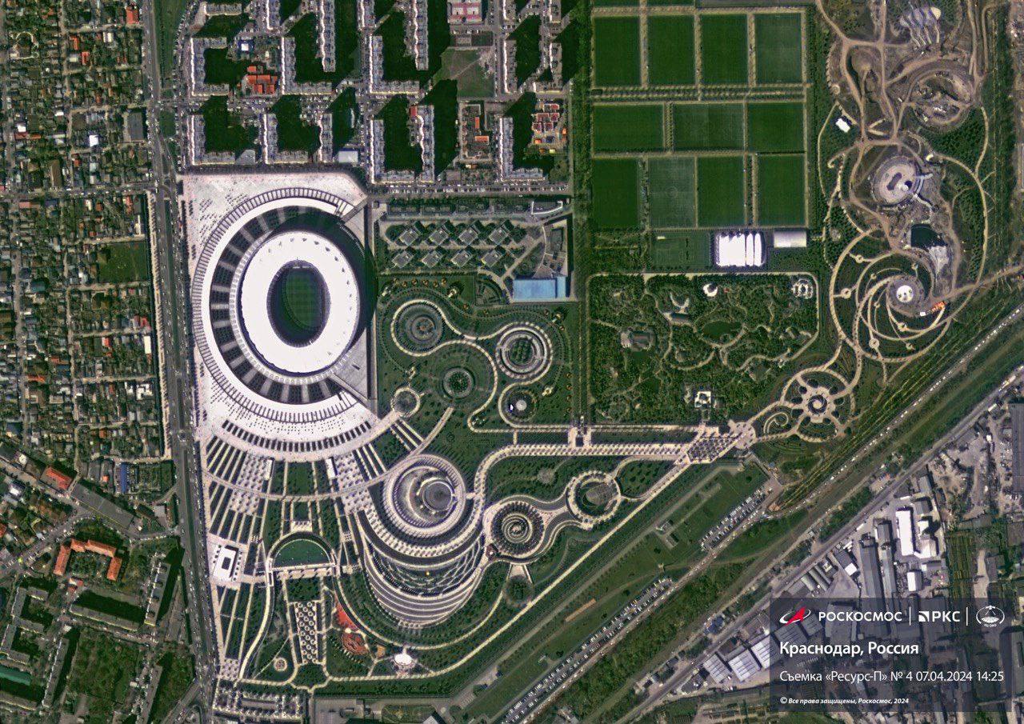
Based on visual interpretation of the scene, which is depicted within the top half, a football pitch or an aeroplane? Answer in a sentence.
There is a football pitch within the top half.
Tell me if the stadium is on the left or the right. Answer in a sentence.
The stadium is on the left side of the image.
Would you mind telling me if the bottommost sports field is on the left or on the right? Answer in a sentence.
The bottommost sports field is on the left side of the image.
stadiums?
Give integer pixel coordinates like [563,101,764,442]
[202,196,365,413]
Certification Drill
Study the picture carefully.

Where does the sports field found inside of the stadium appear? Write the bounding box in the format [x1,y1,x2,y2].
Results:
[273,267,322,342]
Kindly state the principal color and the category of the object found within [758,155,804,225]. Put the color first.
green soccer field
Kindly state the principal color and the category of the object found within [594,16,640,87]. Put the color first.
green soccer field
